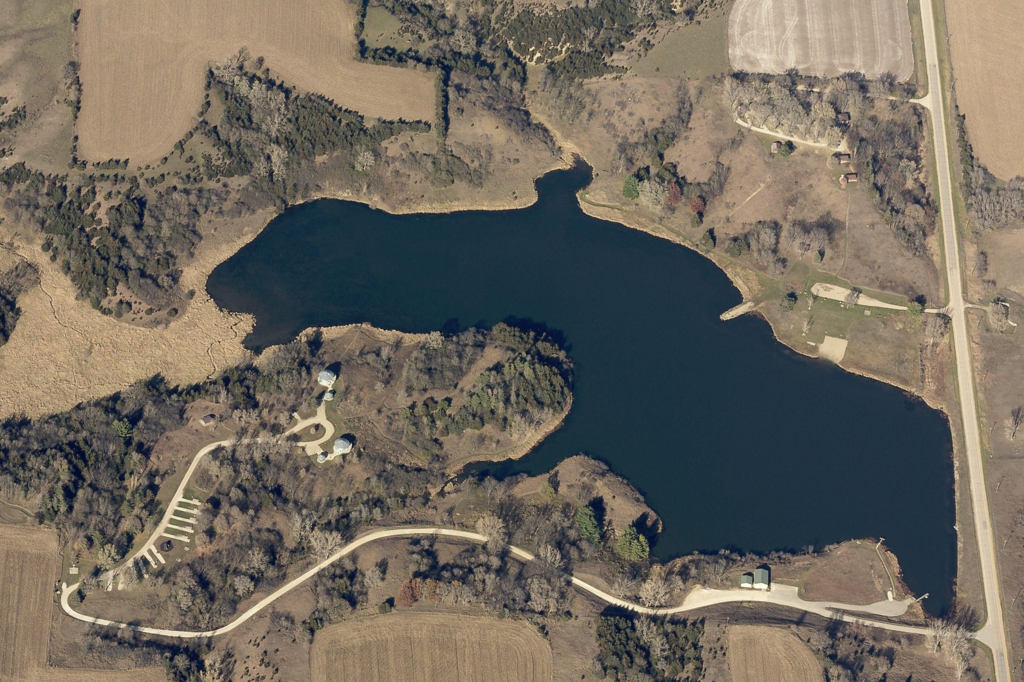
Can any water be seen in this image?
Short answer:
Yes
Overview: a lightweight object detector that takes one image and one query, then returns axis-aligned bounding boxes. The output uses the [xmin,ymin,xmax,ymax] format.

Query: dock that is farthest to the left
[720,301,757,320]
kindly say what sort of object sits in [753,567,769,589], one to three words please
shed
